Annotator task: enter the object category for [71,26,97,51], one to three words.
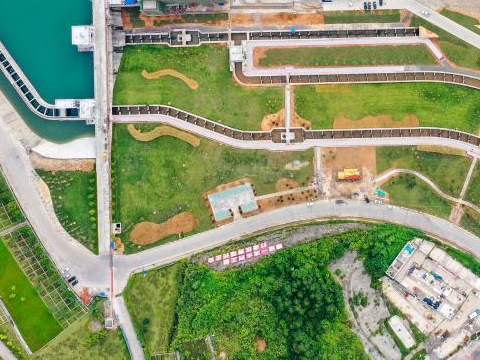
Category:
building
